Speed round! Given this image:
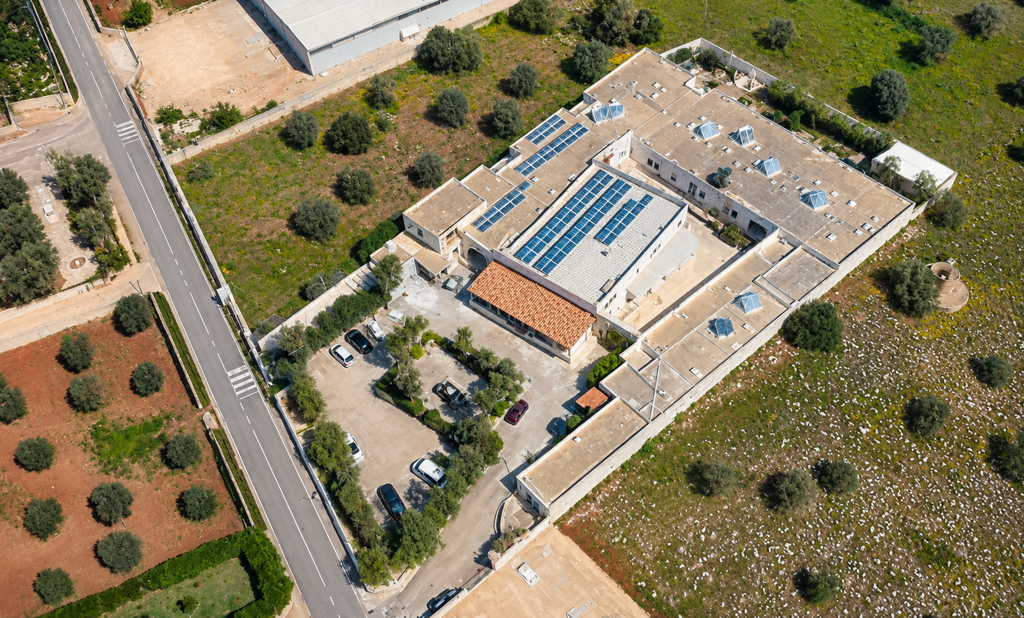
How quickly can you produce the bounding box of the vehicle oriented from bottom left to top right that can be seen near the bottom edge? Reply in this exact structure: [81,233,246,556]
[426,581,465,611]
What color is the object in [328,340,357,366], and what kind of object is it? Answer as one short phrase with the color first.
white car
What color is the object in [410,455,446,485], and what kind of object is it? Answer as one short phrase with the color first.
white car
